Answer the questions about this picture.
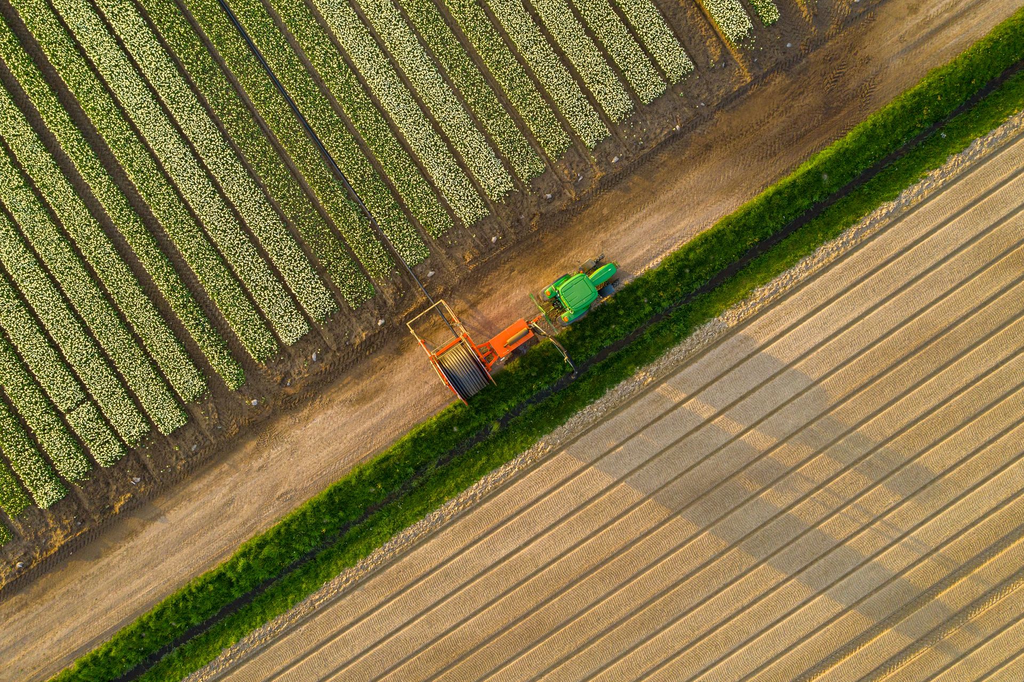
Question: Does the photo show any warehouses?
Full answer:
No, the frame has no warehouse in it.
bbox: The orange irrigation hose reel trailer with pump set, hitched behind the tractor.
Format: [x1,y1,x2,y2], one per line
[406,299,546,406]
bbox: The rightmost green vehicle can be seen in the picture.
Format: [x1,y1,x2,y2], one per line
[531,255,622,335]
